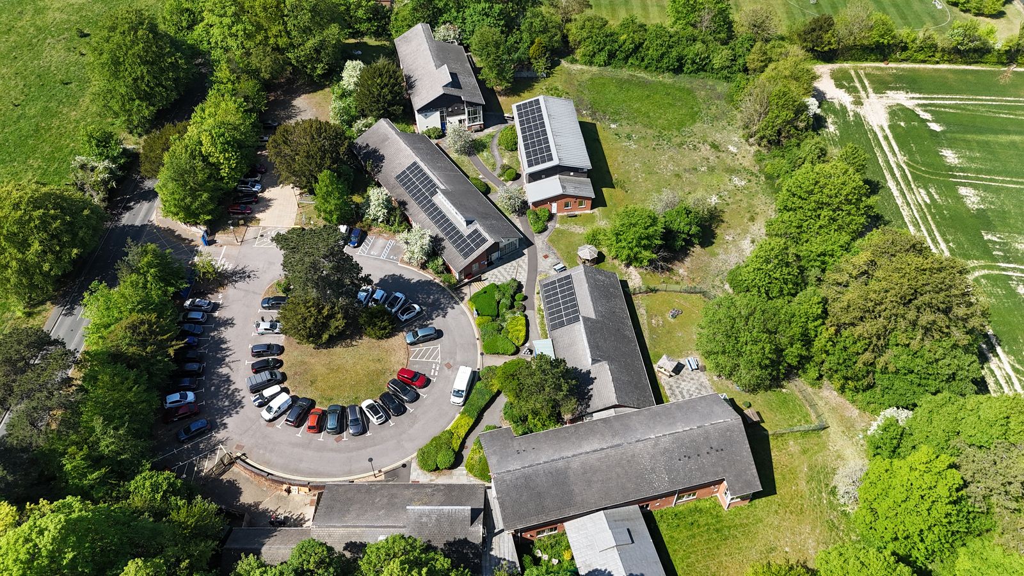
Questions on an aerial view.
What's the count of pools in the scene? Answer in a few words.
0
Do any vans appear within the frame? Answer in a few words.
Yes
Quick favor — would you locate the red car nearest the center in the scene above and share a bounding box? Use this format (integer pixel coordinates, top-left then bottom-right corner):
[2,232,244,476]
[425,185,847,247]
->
[396,365,428,388]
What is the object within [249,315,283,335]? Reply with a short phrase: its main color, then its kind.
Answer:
white car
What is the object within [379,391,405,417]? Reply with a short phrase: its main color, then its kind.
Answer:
black car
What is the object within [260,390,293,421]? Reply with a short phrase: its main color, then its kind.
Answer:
white van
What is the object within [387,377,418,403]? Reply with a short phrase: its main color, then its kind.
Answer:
black car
